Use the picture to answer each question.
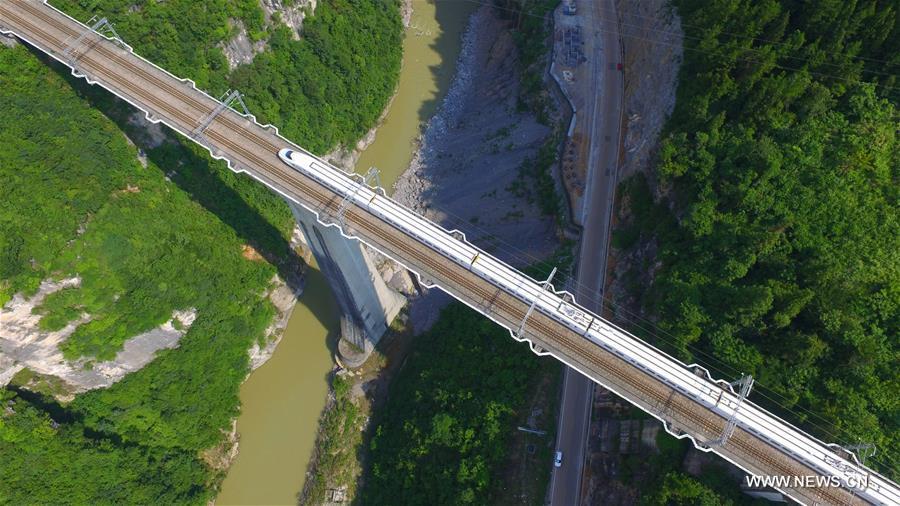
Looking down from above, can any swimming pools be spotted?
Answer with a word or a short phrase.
No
